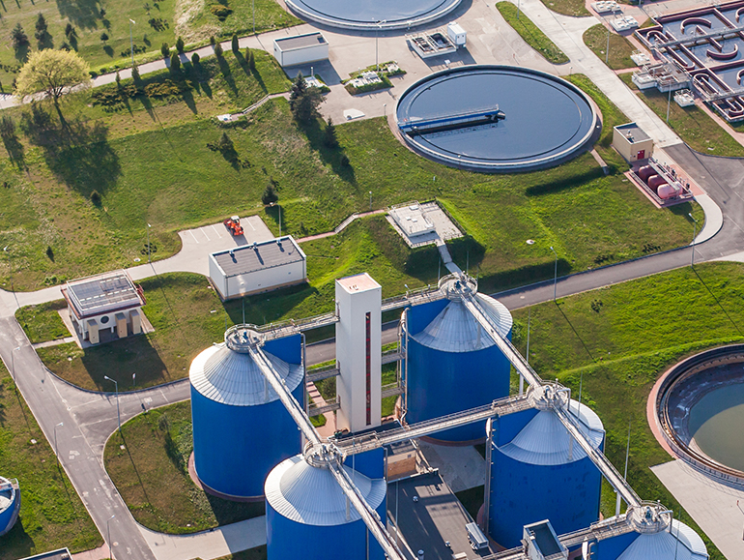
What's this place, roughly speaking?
industrial area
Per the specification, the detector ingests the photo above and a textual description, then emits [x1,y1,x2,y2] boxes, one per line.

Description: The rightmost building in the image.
[610,120,654,164]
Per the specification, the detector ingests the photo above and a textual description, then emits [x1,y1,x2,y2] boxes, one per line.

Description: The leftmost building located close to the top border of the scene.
[270,26,328,66]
